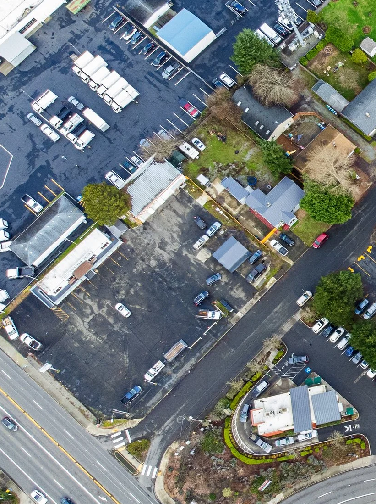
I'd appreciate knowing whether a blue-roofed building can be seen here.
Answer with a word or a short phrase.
Yes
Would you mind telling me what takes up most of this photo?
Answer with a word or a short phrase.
paved ground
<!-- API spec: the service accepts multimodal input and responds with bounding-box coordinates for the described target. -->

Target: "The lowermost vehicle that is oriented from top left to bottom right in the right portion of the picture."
[251,433,272,452]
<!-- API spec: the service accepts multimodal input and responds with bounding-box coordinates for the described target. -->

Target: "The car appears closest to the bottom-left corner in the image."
[30,488,48,504]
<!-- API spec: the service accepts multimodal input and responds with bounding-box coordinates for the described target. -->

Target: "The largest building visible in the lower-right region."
[251,385,346,438]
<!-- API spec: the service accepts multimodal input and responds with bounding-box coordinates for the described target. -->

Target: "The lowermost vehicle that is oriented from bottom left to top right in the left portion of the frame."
[121,385,142,407]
